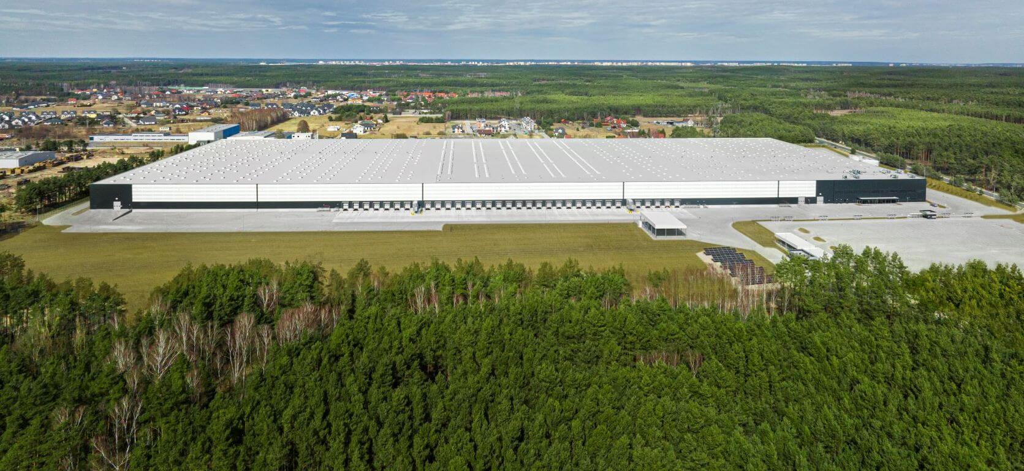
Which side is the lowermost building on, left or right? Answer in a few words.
right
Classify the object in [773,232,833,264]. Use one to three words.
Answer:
building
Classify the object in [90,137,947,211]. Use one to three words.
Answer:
building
